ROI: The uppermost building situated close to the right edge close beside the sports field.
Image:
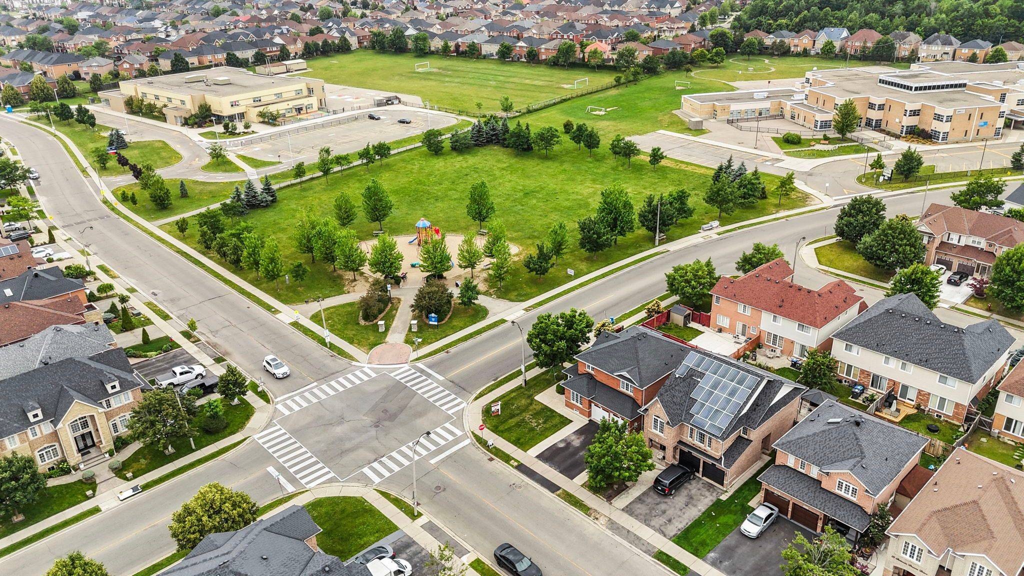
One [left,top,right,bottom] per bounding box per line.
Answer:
[681,61,1024,142]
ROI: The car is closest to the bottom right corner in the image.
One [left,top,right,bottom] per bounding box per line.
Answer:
[742,502,781,537]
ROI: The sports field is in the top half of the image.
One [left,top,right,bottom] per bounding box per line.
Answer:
[283,50,620,115]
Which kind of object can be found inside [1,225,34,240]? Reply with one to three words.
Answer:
car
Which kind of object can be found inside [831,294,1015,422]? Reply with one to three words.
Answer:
house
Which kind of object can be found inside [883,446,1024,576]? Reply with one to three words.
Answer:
house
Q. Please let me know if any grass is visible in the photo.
Yes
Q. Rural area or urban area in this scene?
urban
